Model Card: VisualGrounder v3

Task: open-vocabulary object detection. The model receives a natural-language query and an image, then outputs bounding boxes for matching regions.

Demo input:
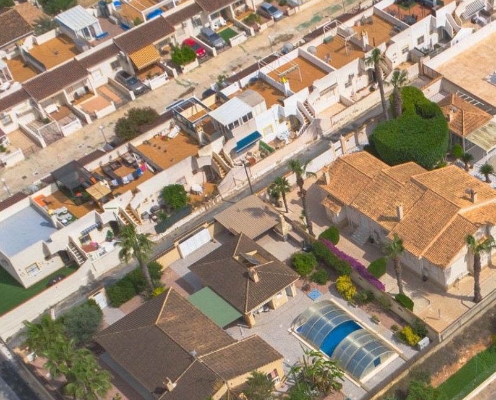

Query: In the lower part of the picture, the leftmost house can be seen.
[0,200,71,288]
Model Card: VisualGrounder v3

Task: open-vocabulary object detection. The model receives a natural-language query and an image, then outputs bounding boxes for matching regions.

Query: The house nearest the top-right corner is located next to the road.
[374,0,462,55]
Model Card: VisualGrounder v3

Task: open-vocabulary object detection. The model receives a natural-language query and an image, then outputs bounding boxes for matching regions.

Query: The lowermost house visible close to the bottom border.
[85,289,284,400]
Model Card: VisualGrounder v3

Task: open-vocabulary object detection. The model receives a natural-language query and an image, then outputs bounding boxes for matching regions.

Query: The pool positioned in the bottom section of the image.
[289,299,401,384]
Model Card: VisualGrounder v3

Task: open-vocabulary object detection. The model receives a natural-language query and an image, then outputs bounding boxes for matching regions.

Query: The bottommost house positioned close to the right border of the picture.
[313,150,496,289]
